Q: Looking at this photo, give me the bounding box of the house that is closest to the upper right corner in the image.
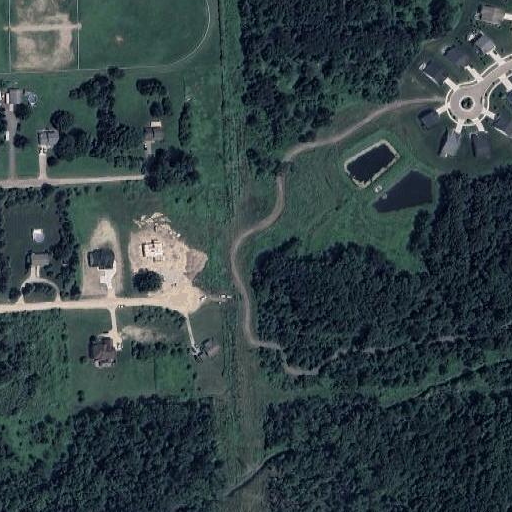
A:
[479,5,506,26]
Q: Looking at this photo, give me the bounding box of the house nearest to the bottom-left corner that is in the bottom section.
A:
[90,337,115,365]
